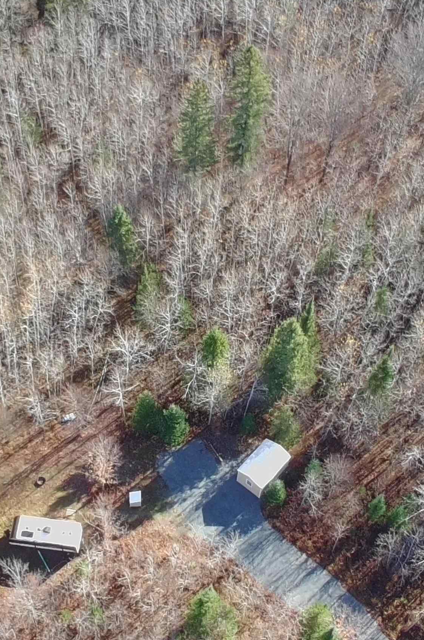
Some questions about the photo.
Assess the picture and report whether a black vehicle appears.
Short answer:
No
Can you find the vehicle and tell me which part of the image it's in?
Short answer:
bottom left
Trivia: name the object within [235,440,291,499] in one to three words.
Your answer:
shed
